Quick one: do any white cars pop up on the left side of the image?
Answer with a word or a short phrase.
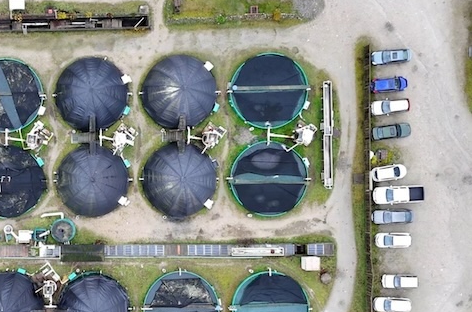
No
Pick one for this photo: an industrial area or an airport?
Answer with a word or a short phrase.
industrial area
